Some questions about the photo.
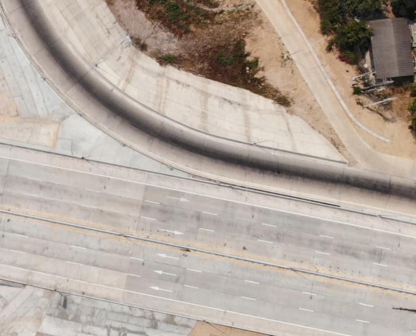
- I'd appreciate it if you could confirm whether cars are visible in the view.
No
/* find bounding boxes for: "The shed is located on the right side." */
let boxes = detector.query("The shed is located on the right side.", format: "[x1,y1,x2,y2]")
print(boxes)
[362,18,413,78]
